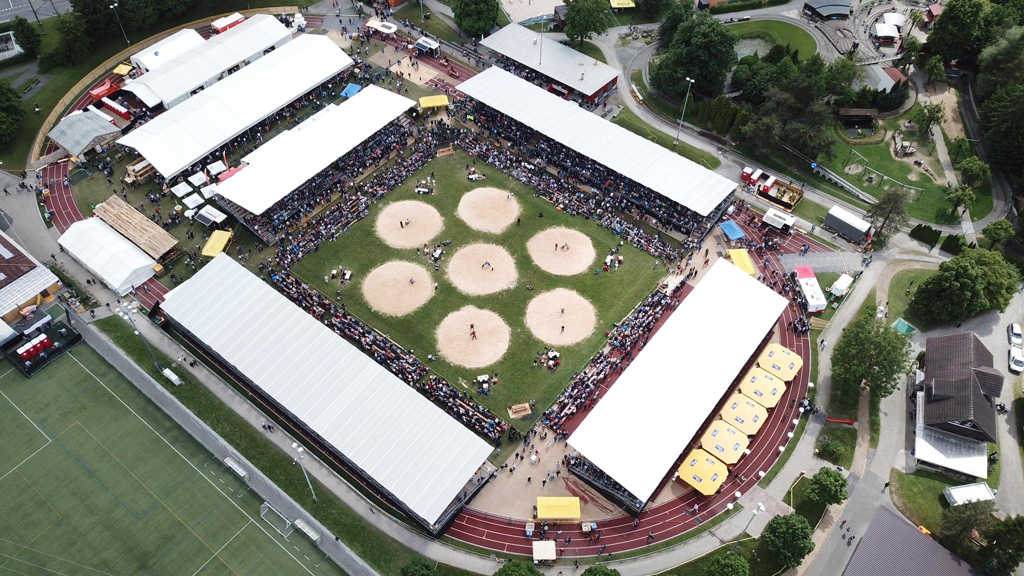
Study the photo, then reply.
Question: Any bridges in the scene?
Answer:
Yes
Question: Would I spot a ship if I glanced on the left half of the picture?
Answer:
No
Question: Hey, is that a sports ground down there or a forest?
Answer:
sports ground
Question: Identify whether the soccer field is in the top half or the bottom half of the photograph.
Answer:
bottom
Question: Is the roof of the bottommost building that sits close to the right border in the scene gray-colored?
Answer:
Yes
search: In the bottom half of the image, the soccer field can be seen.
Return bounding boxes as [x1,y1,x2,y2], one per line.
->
[0,339,349,576]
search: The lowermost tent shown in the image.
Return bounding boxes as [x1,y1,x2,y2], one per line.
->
[533,539,555,569]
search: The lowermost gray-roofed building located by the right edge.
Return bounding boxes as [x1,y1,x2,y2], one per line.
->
[840,505,977,576]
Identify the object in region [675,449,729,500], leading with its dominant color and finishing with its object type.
yellow umbrella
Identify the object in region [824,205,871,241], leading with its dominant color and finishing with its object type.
white trailer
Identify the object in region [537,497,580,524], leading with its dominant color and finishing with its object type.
yellow tent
